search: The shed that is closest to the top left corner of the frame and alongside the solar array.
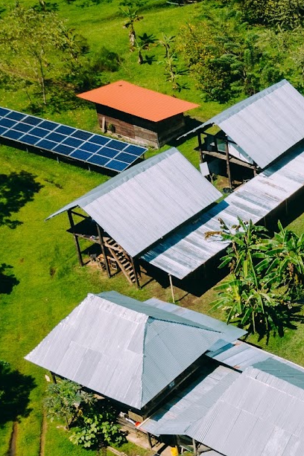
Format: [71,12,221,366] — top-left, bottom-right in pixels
[77,79,197,149]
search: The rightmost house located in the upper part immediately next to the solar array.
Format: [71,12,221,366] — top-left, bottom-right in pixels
[171,78,304,188]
